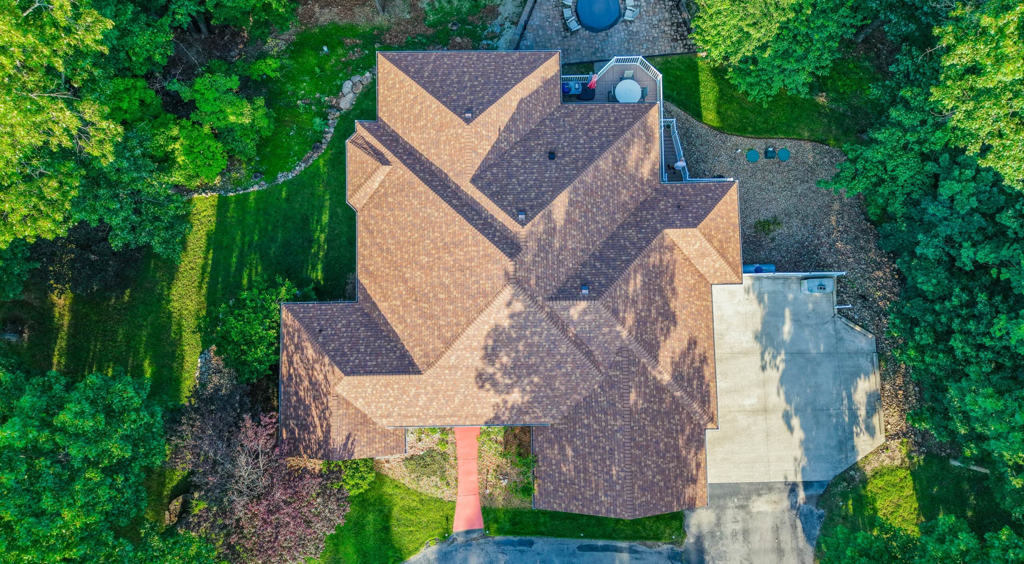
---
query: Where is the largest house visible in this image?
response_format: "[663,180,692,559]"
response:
[279,51,742,520]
